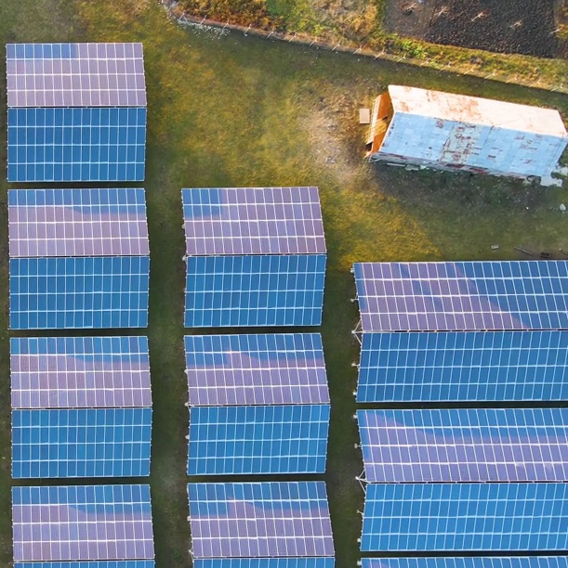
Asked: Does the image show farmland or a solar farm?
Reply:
solar farm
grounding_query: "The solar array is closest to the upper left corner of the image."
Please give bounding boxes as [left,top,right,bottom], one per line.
[6,42,148,181]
